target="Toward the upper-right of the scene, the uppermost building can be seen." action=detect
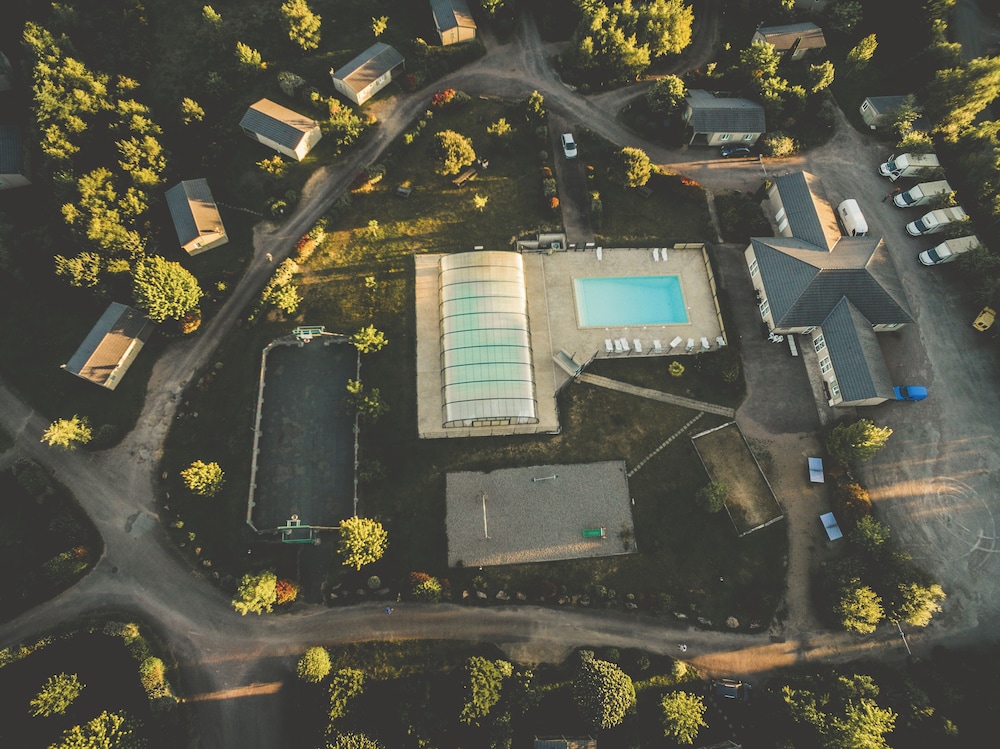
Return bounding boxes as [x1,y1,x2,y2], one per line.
[758,21,828,65]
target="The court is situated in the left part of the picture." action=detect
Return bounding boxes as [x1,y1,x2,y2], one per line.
[250,343,359,530]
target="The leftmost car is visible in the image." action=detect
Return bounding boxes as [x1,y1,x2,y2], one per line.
[561,131,579,161]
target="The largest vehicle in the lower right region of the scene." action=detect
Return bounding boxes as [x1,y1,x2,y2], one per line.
[707,678,754,705]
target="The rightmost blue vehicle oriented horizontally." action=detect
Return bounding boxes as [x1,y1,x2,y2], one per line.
[890,385,931,403]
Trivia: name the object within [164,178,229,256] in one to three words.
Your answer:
building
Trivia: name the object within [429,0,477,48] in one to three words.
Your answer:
building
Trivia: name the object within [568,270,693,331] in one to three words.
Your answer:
swimming pool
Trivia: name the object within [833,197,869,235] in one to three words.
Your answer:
van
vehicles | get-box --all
[561,131,579,161]
[707,678,754,705]
[720,144,752,160]
[890,385,931,403]
[876,150,944,185]
[915,231,986,269]
[970,306,996,335]
[890,177,959,210]
[902,203,974,238]
[833,197,869,235]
